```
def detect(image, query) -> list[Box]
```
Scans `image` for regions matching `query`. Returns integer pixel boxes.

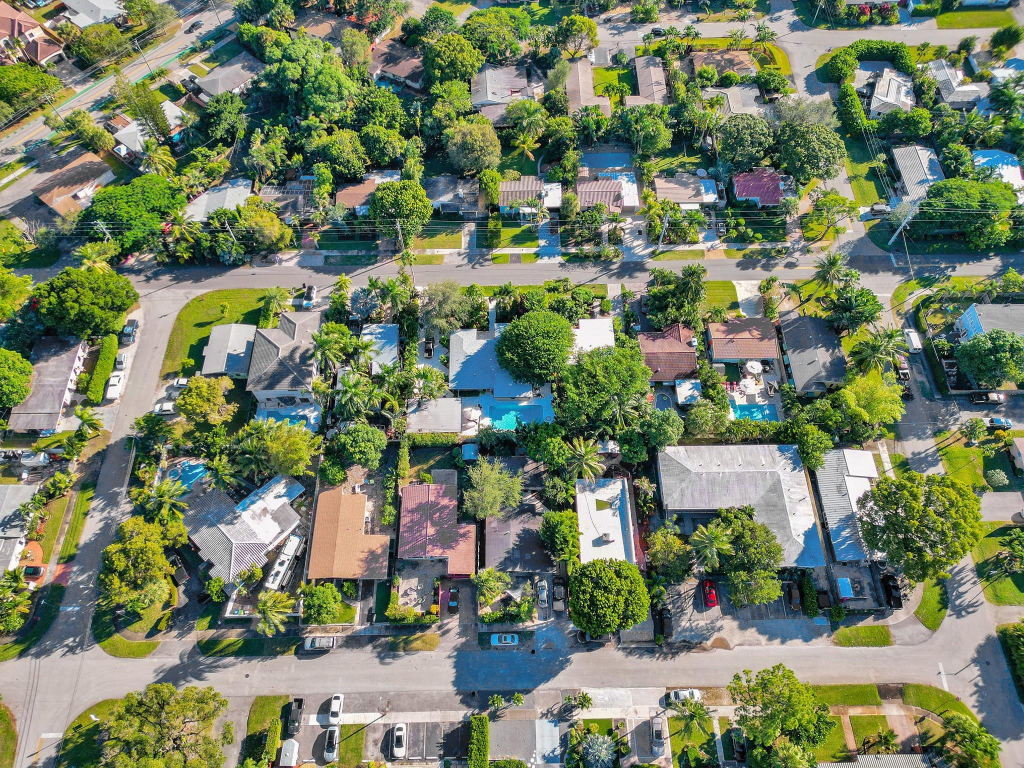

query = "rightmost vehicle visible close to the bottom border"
[730,728,748,763]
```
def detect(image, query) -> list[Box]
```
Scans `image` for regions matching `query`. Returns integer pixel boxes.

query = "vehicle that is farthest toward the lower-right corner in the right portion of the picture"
[881,575,901,610]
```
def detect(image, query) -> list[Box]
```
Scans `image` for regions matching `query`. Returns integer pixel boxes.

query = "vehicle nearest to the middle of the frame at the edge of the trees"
[423,336,435,361]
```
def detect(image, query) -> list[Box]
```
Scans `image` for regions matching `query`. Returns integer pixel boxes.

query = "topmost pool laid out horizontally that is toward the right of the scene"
[861,60,894,72]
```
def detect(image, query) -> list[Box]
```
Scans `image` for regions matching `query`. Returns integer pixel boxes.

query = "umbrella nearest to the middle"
[465,407,480,421]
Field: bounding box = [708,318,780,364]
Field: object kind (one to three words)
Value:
house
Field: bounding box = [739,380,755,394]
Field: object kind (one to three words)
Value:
umbrella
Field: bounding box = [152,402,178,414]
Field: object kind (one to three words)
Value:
vehicle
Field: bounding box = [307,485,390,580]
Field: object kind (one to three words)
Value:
house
